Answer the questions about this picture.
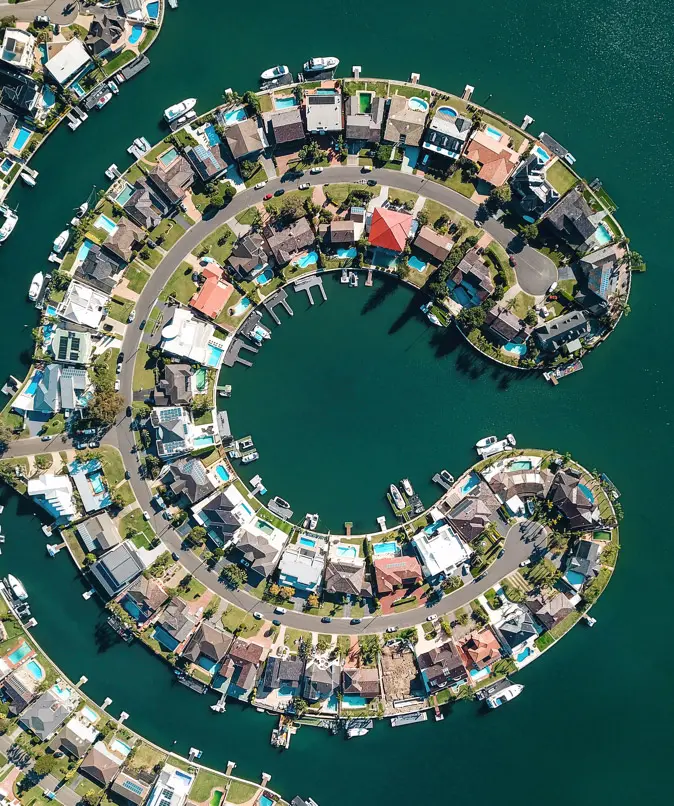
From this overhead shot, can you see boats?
Yes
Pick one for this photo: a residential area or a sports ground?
residential area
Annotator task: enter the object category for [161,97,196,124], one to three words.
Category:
boat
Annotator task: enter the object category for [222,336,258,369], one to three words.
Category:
pier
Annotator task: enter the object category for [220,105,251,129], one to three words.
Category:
swimming pool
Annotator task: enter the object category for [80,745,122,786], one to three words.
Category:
house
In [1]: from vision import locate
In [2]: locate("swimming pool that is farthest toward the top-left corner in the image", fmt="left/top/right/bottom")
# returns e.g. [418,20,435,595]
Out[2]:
[37,41,50,68]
